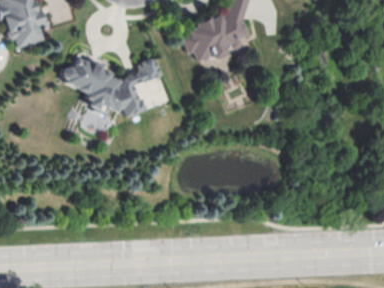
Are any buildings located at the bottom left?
No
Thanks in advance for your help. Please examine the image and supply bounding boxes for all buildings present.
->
[58,56,166,118]
[0,0,51,51]
[178,0,252,66]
